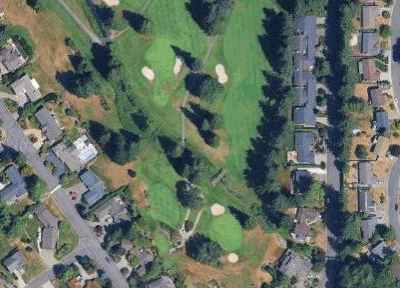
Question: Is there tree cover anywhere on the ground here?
Yes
